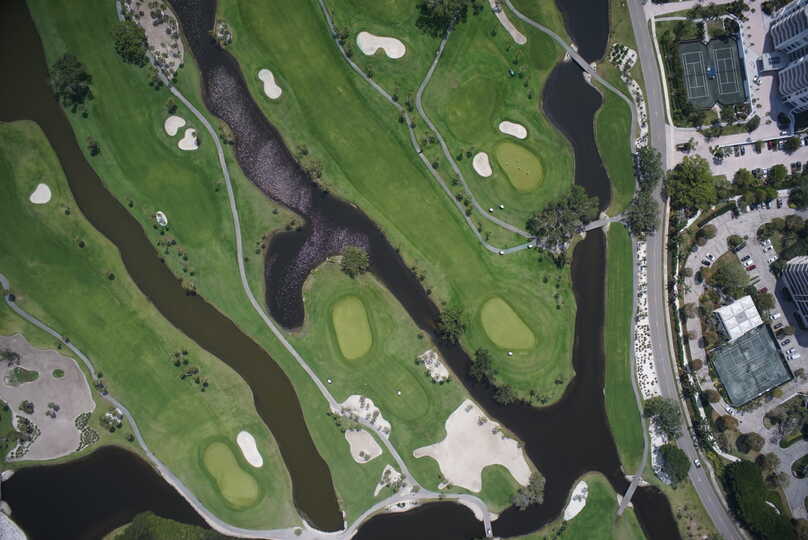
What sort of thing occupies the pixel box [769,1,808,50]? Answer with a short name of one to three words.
building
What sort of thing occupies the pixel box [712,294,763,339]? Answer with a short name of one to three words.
building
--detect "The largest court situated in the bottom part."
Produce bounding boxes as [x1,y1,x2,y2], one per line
[713,326,792,406]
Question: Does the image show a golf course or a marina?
golf course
